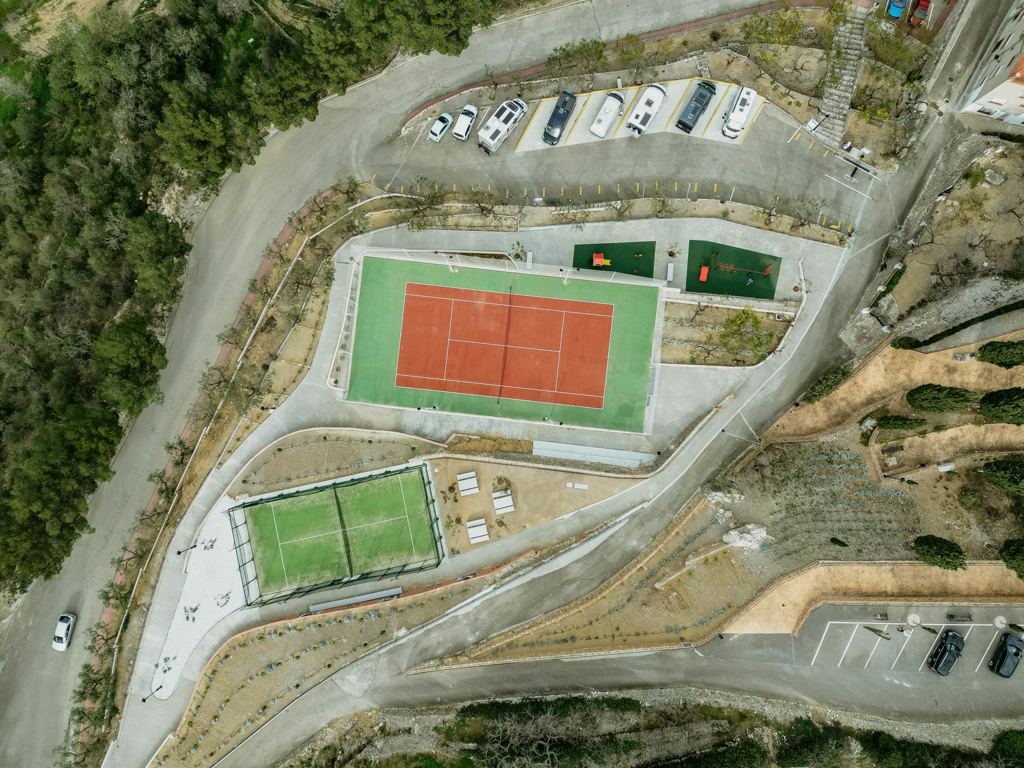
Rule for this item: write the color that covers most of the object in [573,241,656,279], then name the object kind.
green playground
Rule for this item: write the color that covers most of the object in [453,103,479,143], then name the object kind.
white car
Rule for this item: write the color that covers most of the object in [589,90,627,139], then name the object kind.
white van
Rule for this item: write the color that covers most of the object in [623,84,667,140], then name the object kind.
white camper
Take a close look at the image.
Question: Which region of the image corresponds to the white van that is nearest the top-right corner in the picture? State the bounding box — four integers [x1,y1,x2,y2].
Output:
[722,86,756,141]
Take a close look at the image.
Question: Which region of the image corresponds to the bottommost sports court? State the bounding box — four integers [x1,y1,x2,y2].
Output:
[229,463,445,608]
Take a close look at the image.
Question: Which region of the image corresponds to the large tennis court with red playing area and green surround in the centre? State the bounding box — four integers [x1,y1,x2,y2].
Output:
[348,259,658,431]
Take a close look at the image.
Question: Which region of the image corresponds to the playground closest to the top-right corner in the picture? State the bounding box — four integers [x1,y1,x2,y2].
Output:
[686,240,782,300]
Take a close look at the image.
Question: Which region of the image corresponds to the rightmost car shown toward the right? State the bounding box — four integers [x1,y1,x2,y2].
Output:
[990,633,1024,680]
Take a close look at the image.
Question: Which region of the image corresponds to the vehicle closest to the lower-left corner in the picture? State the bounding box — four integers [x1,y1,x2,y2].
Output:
[50,612,78,652]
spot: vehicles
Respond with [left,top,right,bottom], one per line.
[886,0,911,21]
[589,90,627,139]
[722,86,756,141]
[676,79,717,134]
[930,631,966,678]
[990,633,1024,680]
[907,0,935,27]
[50,612,78,652]
[429,112,454,143]
[543,94,576,147]
[478,97,529,152]
[453,103,479,143]
[623,84,667,140]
